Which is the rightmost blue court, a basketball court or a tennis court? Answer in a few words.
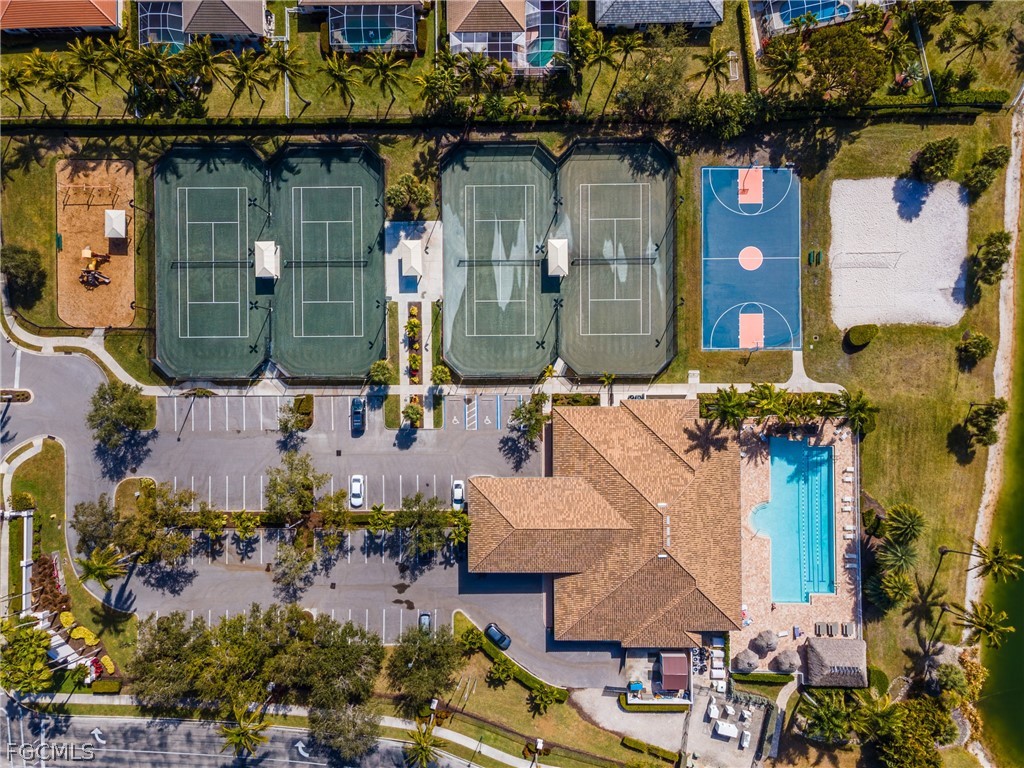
basketball court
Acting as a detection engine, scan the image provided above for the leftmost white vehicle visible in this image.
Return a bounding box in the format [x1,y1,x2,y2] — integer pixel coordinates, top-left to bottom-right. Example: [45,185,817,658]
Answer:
[348,476,363,507]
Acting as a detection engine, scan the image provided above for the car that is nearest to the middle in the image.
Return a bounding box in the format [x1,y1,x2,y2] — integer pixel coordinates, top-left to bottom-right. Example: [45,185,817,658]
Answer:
[451,481,465,512]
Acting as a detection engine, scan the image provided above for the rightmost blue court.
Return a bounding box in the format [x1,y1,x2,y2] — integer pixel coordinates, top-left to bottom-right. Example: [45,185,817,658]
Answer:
[701,166,801,351]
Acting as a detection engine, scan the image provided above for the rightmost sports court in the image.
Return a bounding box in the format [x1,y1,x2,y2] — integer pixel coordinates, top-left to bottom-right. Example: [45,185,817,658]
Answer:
[829,177,969,331]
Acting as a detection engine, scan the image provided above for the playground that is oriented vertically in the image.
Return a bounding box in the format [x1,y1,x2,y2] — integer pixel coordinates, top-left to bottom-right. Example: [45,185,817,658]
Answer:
[56,158,135,329]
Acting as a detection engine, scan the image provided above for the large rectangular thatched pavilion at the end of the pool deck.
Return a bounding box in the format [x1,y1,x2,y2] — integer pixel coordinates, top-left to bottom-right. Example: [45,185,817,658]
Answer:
[805,636,870,687]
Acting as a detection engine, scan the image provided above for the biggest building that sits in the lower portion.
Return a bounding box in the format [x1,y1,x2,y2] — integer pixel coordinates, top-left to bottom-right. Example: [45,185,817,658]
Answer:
[468,400,743,648]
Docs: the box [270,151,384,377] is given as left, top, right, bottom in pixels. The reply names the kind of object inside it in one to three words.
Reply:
tennis court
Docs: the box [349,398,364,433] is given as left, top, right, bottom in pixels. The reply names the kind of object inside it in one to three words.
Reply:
vehicle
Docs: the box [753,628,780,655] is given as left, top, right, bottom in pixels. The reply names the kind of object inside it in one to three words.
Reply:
umbrella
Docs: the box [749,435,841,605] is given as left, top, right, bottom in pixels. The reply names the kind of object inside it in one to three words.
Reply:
swimming pool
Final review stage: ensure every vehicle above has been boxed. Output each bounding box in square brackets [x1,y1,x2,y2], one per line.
[349,398,364,433]
[348,476,363,507]
[451,481,465,512]
[418,612,431,631]
[483,624,511,652]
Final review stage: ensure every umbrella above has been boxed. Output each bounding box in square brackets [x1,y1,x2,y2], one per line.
[773,647,800,674]
[732,647,758,673]
[753,628,780,655]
